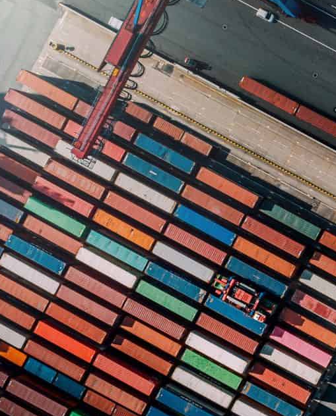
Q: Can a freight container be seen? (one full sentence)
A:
Yes, you can see a freight container in this photo.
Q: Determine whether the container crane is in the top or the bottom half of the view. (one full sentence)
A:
The container crane is in the top half of the image.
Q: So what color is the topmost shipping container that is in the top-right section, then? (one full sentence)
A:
In this view, the topmost shipping container that is in the top-right section is red.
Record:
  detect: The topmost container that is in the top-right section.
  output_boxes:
[239,75,301,117]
